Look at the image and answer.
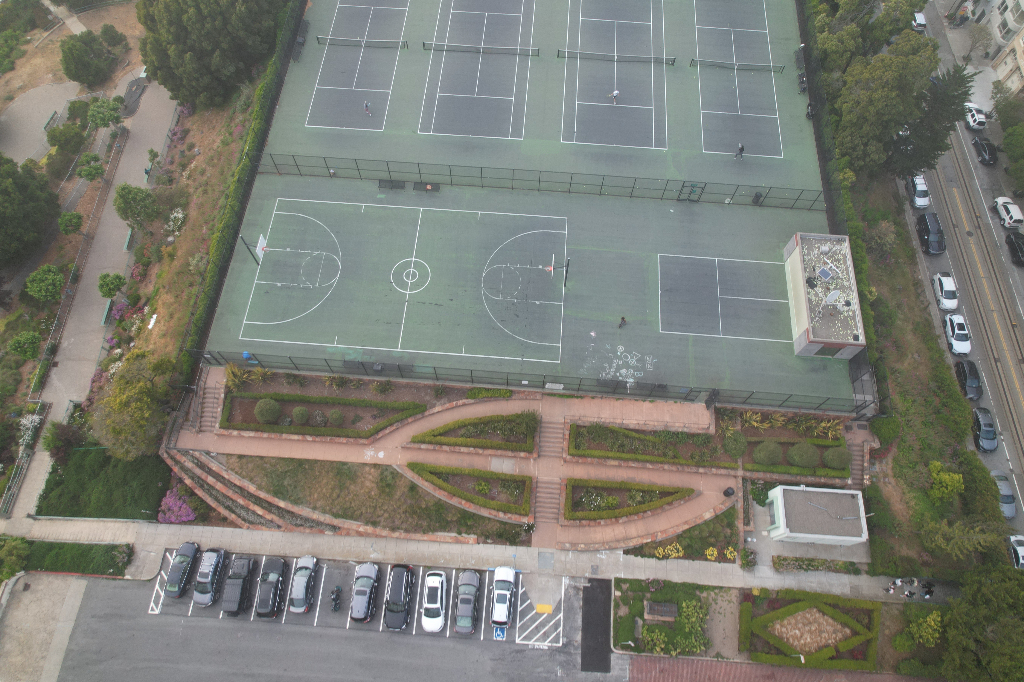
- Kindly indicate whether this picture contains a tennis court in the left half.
Yes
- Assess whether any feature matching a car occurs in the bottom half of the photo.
Yes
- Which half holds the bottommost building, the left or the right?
right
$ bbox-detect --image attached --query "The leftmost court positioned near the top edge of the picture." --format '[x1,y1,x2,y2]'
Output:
[305,0,410,131]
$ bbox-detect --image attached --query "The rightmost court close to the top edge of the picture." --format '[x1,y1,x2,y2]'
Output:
[694,0,783,157]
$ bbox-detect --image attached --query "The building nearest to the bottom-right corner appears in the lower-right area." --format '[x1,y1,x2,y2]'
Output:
[760,486,873,545]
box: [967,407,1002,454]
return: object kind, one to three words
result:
car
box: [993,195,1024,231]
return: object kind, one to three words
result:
car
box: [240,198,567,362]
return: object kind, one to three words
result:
basketball court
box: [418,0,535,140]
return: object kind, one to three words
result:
tennis court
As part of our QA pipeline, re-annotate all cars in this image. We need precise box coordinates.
[489,565,518,628]
[348,562,379,622]
[216,555,256,617]
[190,547,229,608]
[952,360,986,401]
[960,101,992,133]
[162,540,202,599]
[254,557,287,617]
[917,211,949,256]
[453,570,481,634]
[993,195,1024,231]
[932,271,961,312]
[1004,536,1024,582]
[420,570,448,632]
[287,554,320,614]
[991,471,1021,519]
[1004,230,1024,270]
[967,407,1002,454]
[381,564,414,631]
[907,172,934,209]
[942,313,974,358]
[969,135,997,168]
